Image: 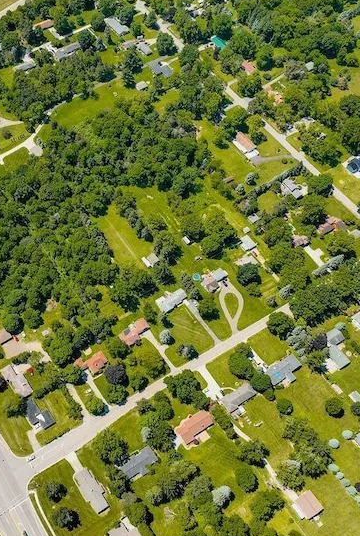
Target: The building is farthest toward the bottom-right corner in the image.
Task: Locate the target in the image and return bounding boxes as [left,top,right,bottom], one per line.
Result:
[290,490,323,520]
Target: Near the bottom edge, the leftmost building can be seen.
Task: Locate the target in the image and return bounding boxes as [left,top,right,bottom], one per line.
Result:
[75,467,110,514]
